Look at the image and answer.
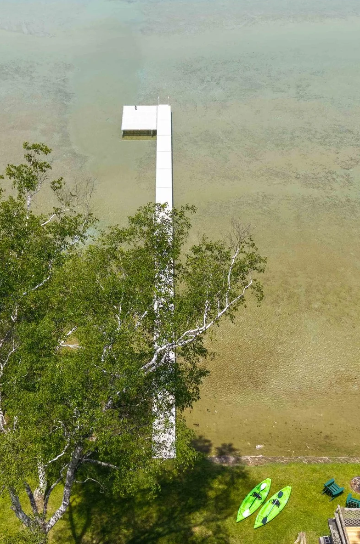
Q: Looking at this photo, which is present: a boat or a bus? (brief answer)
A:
boat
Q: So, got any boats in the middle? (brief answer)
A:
No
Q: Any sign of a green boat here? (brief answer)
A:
Yes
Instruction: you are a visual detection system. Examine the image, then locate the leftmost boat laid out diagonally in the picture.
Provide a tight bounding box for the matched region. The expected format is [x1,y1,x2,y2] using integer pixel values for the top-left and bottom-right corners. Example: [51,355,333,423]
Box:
[237,478,270,523]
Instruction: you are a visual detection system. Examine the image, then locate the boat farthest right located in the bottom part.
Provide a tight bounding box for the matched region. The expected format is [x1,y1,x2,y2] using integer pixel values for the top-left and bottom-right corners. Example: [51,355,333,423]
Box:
[255,486,289,529]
